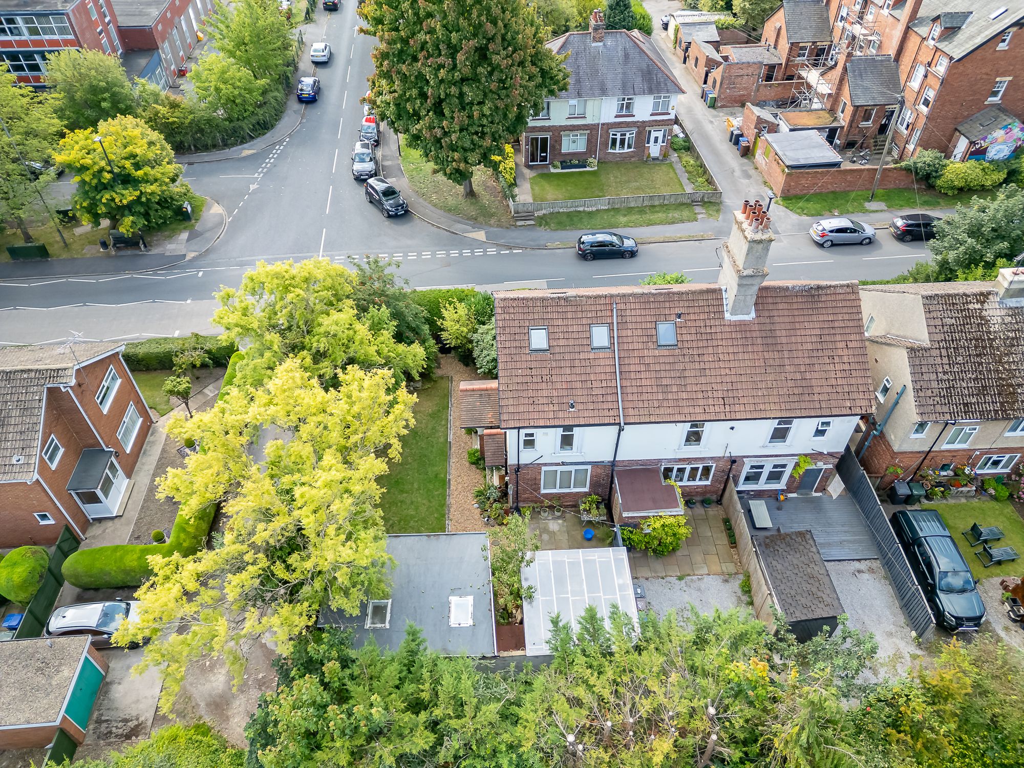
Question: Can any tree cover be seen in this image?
Yes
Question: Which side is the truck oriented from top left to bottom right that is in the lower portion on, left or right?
right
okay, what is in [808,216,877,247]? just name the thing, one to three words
car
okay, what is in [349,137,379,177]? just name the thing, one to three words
car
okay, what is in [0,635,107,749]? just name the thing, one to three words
building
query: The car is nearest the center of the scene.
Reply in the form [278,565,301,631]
[573,229,639,260]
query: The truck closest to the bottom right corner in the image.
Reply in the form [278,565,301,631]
[886,502,996,630]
